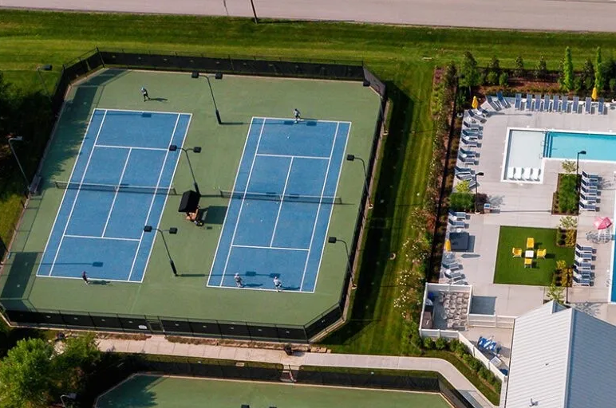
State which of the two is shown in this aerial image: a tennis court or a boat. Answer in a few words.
tennis court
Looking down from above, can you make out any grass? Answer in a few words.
Yes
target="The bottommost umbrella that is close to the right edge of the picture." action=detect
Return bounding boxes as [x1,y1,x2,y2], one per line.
[593,215,616,241]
